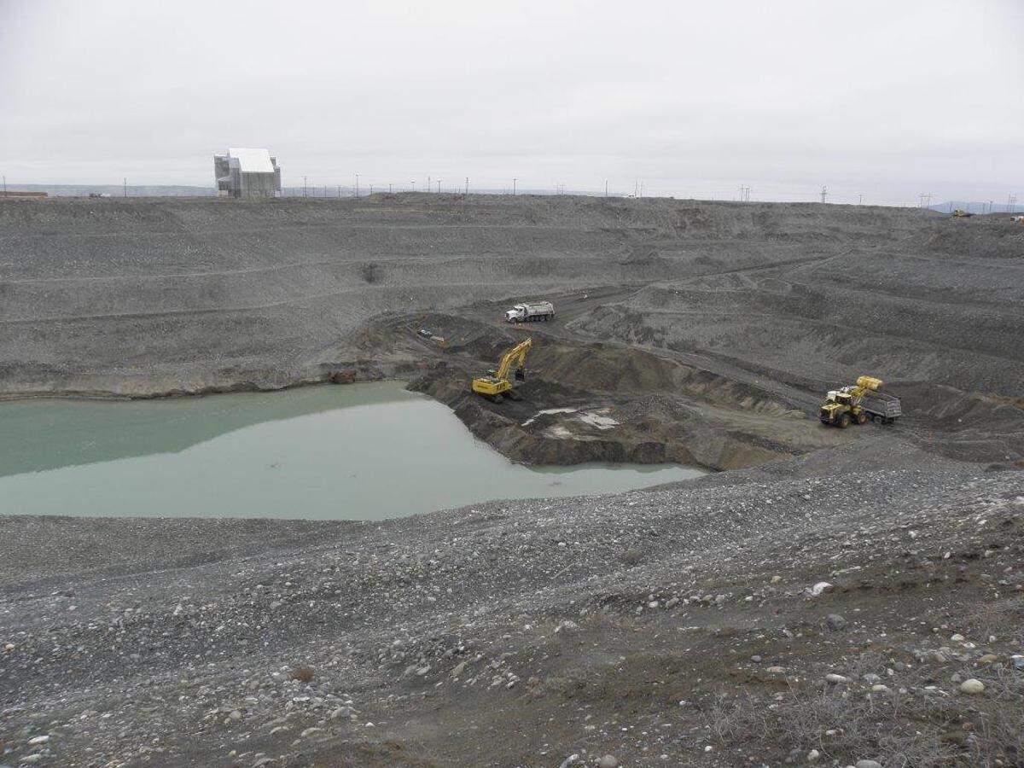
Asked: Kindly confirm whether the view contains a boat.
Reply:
No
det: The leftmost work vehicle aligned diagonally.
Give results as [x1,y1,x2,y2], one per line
[472,336,531,401]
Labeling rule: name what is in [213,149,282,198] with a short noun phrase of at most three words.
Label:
building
